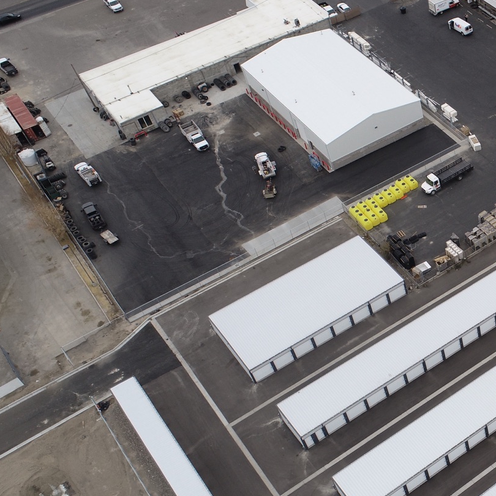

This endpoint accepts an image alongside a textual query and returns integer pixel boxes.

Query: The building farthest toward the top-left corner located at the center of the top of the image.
[78,0,333,137]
